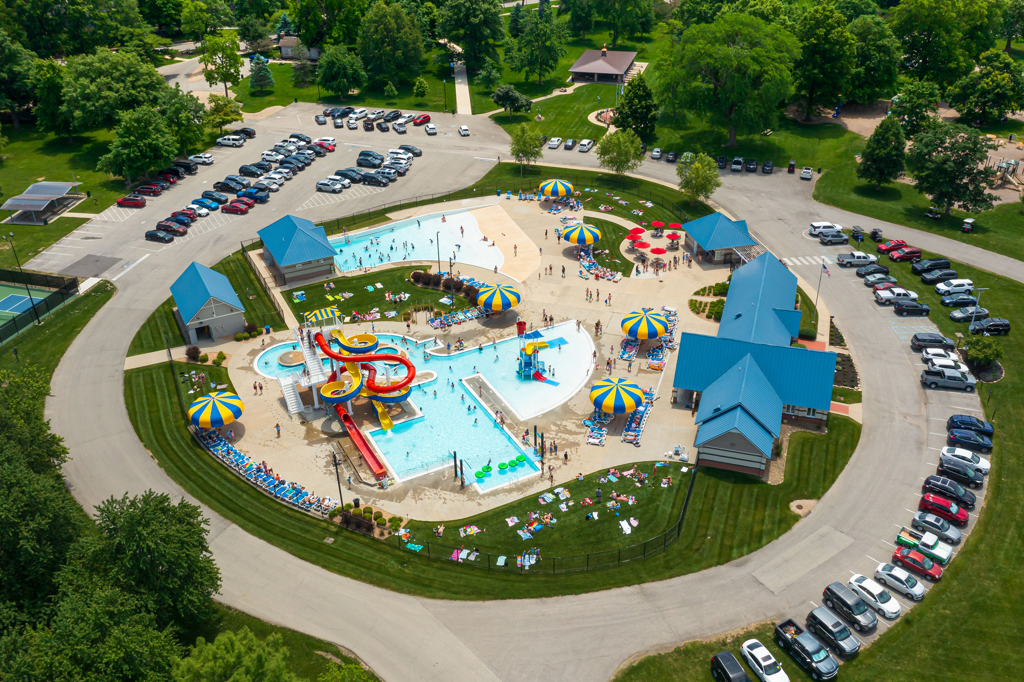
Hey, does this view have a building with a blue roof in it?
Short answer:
Yes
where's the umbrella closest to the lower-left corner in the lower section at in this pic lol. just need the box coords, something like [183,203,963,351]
[187,394,245,432]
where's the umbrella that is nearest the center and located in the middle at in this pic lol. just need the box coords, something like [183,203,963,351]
[476,285,522,318]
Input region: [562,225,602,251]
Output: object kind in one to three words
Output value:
umbrella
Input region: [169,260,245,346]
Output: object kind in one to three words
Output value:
building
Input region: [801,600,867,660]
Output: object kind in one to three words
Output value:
car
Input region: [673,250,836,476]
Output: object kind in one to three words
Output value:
building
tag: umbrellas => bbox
[562,225,602,251]
[666,222,683,233]
[632,241,652,254]
[663,233,682,242]
[539,179,574,204]
[624,234,643,242]
[649,220,666,231]
[187,394,245,432]
[476,285,522,318]
[649,247,668,256]
[621,311,670,346]
[628,227,647,235]
[589,379,645,419]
